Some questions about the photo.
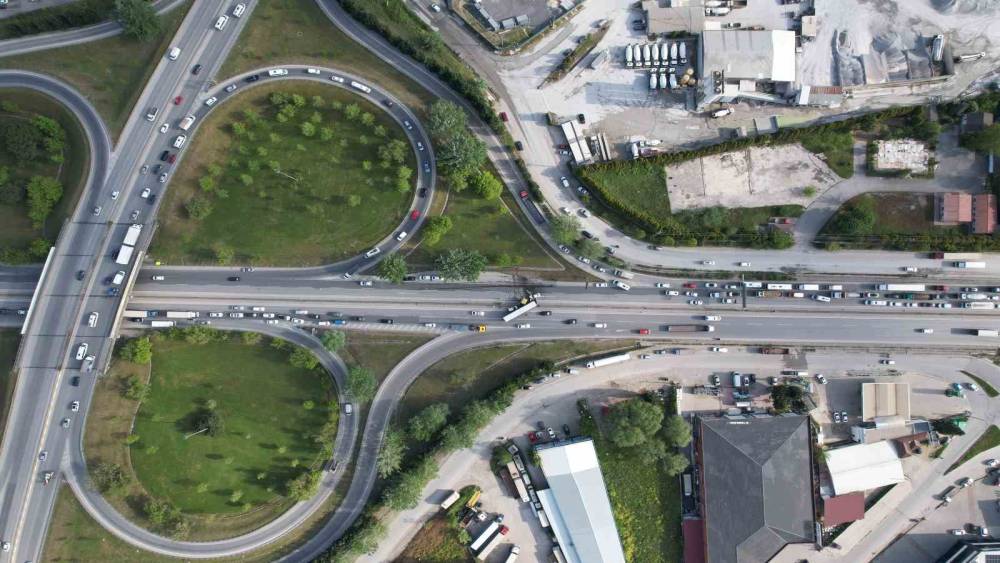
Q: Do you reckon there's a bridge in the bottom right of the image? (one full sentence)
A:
No, no bridge is visible in the bottom right of the image.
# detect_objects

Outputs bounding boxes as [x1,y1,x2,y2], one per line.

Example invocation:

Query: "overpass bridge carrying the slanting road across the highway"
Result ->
[14,222,155,367]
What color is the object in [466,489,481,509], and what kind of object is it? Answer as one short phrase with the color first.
yellow vehicle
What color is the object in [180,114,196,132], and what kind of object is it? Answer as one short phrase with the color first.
white vehicle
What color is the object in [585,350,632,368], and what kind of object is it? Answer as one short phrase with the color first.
white vehicle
